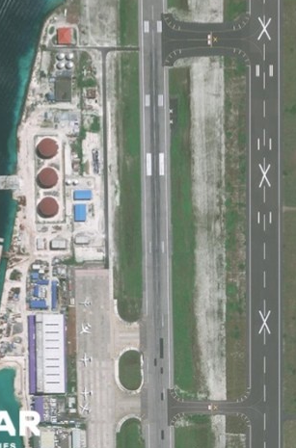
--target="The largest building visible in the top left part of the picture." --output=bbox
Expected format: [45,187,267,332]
[54,79,72,103]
